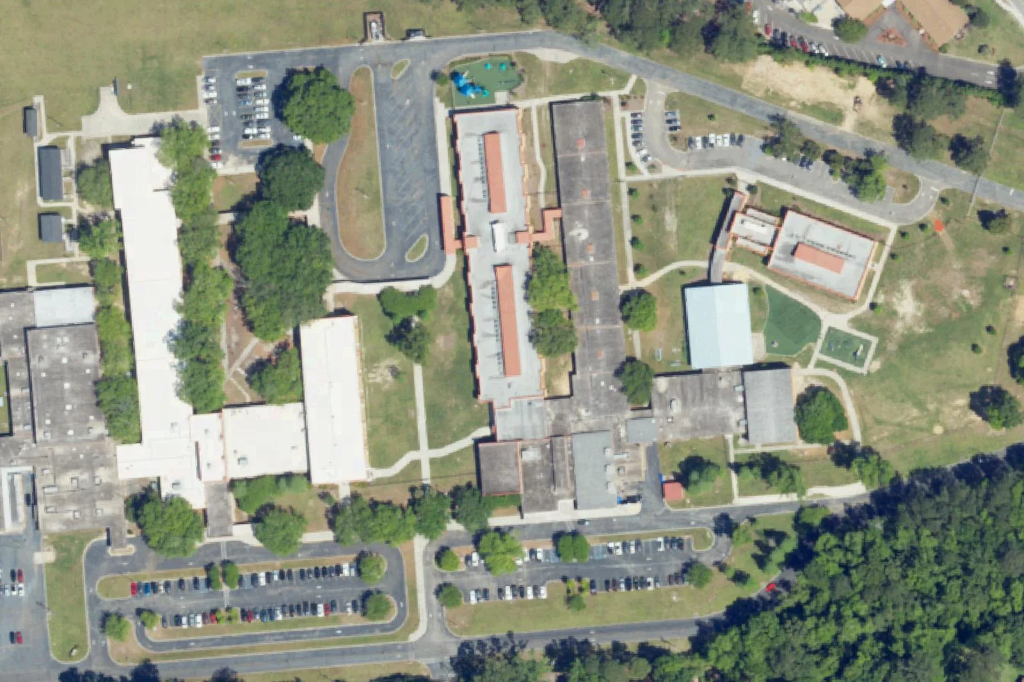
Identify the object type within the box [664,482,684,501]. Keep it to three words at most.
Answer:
shed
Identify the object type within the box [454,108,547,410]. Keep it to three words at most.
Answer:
building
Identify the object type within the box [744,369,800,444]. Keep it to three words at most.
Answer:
building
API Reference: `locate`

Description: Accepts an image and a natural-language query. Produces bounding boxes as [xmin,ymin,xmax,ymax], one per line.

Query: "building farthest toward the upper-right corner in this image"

[904,0,969,47]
